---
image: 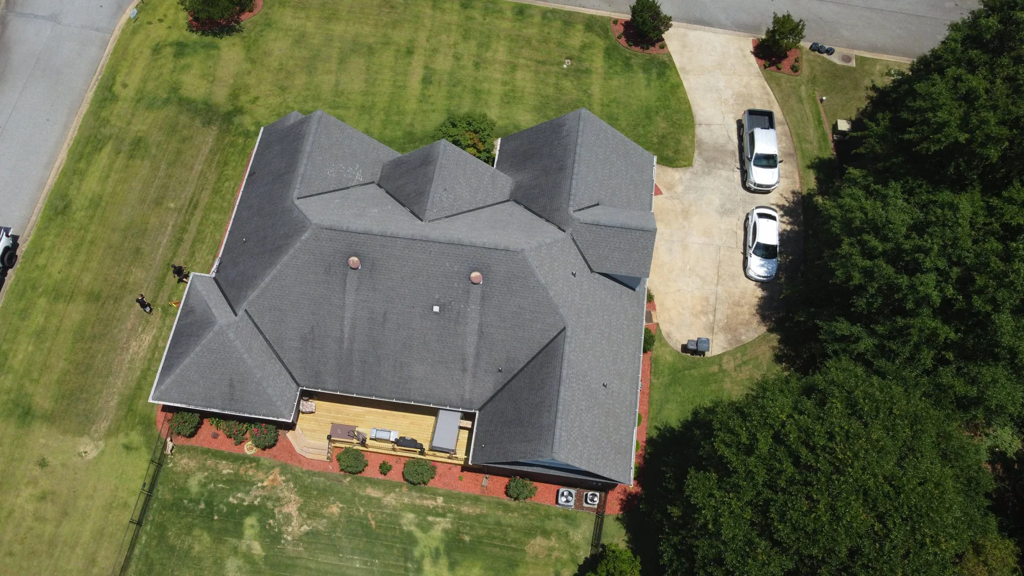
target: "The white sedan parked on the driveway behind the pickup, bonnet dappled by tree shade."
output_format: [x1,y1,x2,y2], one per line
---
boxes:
[742,205,783,286]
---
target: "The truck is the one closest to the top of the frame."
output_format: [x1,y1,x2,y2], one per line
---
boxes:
[740,109,784,195]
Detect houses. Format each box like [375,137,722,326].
[151,106,660,485]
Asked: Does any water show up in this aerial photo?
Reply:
No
